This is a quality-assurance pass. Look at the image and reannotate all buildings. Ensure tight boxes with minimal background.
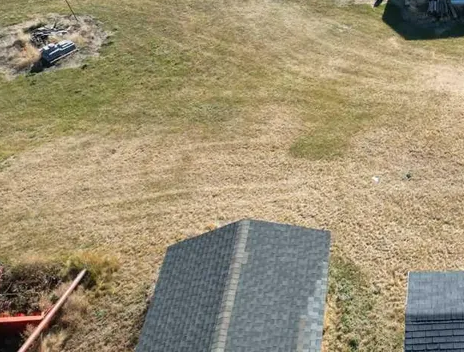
[404,269,464,352]
[133,217,332,352]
